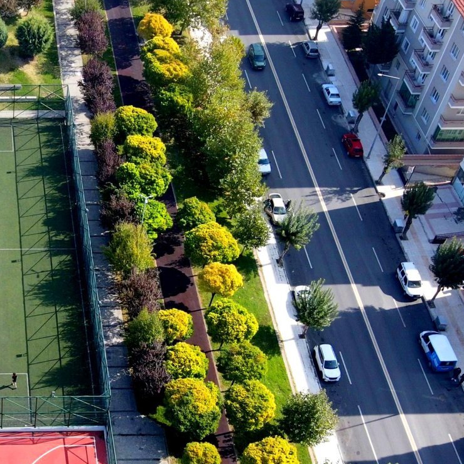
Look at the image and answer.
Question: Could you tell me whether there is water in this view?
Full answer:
No, there is no water in the image.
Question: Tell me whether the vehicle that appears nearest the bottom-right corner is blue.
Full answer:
Yes, the vehicle that appears nearest the bottom-right corner is blue.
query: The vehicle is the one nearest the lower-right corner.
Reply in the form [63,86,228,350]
[420,330,462,376]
